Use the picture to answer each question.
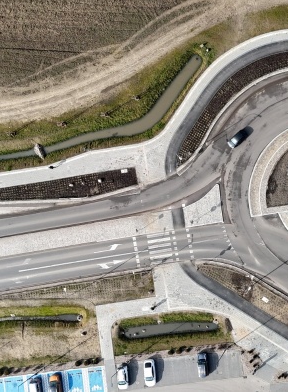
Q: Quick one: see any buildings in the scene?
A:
No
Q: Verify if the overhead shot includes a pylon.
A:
No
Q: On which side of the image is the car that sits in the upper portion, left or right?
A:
right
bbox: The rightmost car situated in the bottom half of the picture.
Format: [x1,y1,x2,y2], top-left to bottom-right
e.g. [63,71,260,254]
[197,351,209,377]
